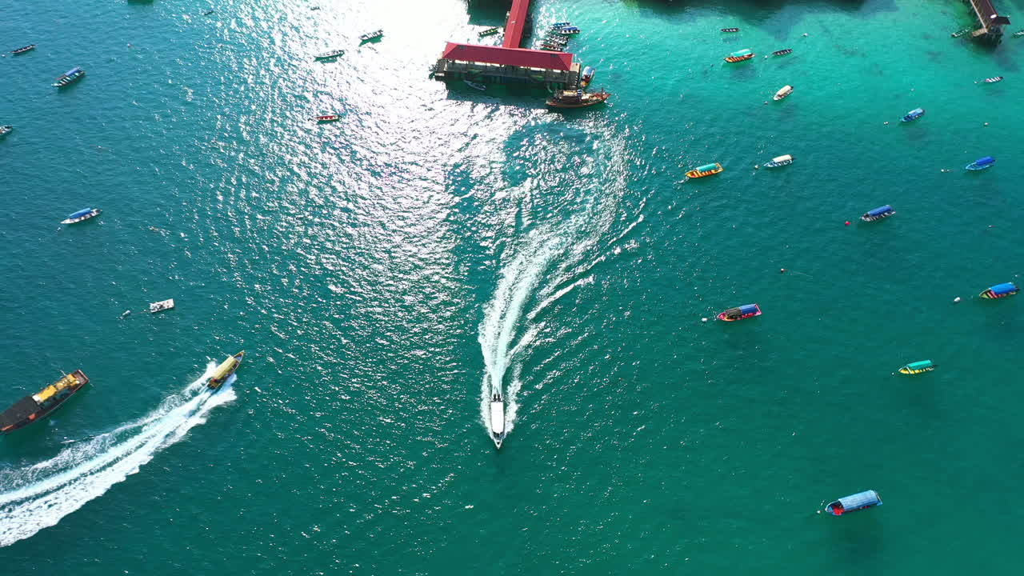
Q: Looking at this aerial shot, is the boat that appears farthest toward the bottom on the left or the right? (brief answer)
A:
right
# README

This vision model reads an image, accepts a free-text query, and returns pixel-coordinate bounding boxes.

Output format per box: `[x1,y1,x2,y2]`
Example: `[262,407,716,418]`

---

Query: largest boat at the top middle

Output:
[546,82,613,106]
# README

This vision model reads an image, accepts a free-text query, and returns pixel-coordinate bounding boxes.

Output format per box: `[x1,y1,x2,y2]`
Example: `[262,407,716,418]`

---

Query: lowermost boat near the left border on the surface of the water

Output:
[0,370,95,440]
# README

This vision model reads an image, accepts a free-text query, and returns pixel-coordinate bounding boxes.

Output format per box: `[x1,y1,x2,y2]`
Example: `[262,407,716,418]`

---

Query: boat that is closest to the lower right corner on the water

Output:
[825,492,884,515]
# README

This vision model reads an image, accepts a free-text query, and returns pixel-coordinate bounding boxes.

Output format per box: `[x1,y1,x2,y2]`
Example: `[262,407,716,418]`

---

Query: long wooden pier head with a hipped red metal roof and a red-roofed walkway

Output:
[432,0,582,92]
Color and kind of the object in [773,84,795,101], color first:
white boat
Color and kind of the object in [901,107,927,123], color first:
blue boat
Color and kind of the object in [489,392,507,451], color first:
white boat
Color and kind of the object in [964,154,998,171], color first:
blue boat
